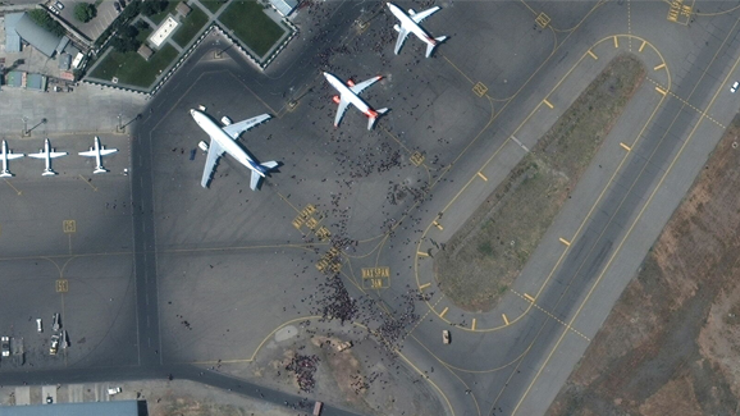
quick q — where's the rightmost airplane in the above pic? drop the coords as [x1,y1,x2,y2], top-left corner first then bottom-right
[387,3,447,56]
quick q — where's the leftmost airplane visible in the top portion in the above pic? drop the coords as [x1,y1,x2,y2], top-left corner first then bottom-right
[0,141,24,176]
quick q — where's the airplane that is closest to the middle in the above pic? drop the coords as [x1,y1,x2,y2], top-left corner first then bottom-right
[324,72,390,127]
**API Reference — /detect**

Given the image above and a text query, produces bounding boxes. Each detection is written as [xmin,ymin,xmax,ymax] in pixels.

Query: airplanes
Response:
[324,72,390,127]
[387,3,447,56]
[77,136,118,173]
[190,109,279,191]
[27,139,67,176]
[0,141,24,176]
